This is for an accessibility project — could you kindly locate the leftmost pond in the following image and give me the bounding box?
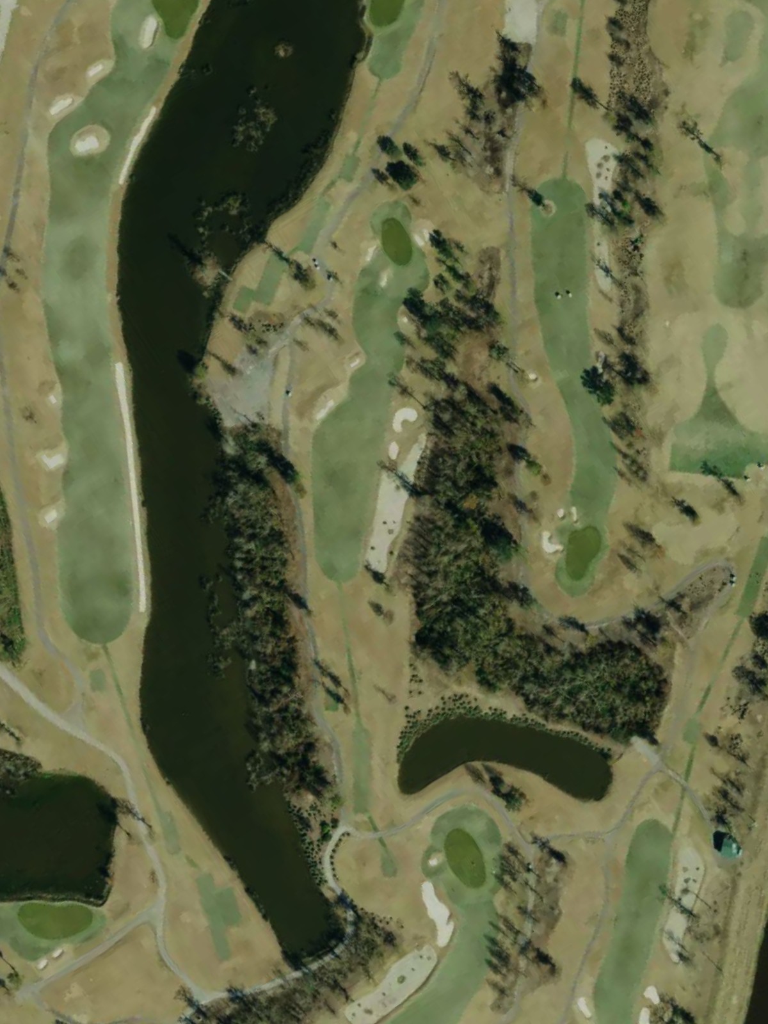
[0,773,118,904]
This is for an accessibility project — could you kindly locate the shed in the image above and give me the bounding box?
[718,839,740,860]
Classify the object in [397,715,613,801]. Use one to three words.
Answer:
pond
